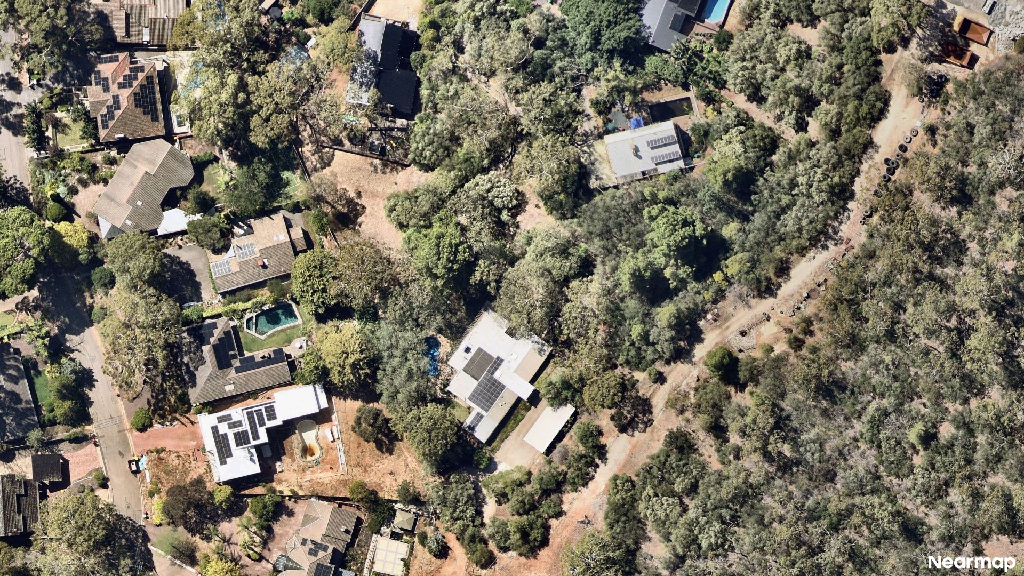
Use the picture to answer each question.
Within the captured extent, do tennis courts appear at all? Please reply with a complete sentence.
Yes, you can see a tennis court in this photo.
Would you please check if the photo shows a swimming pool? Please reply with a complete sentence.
Yes, this view includes a swimming pool.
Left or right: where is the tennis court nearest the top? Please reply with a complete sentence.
The tennis court nearest the top is on the left side of the image.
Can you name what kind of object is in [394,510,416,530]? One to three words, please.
gazebo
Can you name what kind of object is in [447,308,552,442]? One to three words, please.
house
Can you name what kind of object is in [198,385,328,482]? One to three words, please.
house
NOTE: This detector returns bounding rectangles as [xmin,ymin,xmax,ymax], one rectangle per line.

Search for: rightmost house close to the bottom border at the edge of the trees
[276,498,358,576]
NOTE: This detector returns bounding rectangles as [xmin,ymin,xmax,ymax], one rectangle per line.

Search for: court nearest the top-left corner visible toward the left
[252,140,302,205]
